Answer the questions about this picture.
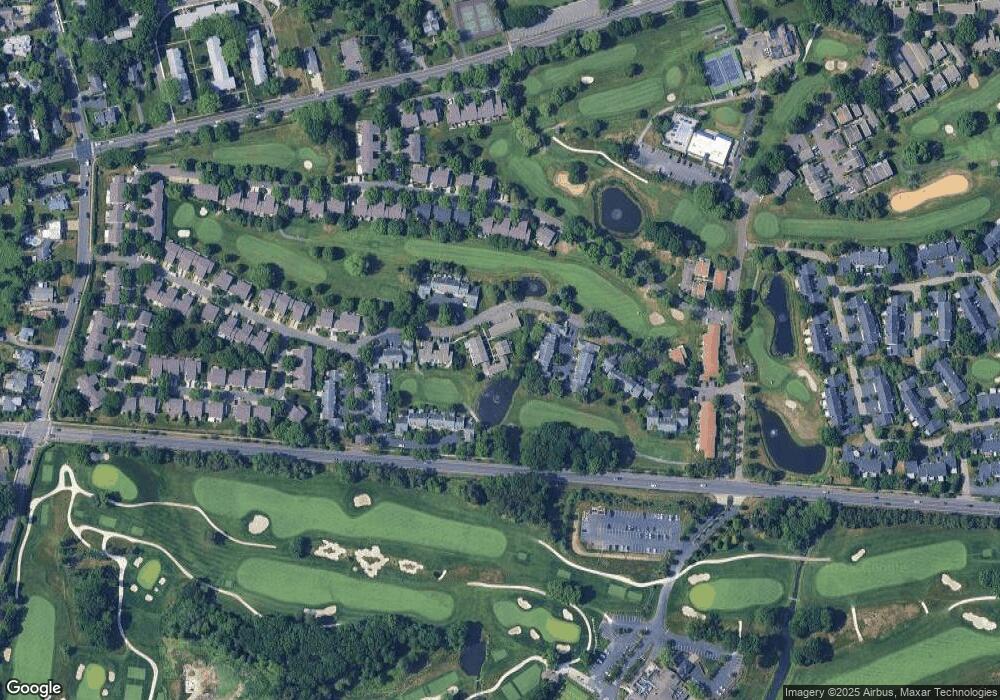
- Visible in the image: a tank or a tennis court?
tennis court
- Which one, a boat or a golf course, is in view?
golf course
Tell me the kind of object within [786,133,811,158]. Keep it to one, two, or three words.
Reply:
house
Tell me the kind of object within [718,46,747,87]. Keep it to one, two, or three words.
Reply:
tennis court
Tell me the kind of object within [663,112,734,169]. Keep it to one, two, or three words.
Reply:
building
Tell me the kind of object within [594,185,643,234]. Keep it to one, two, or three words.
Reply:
pond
